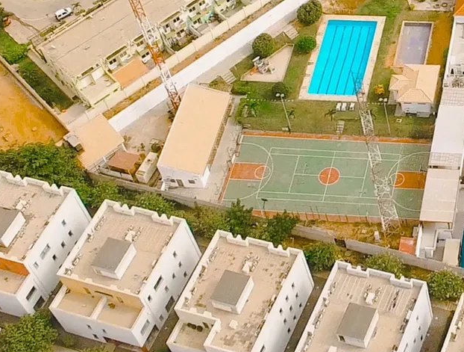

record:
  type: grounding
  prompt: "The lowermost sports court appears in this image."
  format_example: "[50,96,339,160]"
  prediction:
[222,134,434,216]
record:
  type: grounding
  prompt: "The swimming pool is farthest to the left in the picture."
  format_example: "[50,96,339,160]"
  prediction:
[304,17,380,97]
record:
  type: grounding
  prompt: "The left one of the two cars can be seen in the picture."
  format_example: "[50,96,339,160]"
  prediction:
[0,15,17,30]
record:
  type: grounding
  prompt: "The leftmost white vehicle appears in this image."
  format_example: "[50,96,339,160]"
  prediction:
[49,7,77,22]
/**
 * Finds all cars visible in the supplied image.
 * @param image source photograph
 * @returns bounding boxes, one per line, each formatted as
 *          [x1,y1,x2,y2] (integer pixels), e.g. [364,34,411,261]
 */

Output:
[49,7,77,22]
[0,15,17,30]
